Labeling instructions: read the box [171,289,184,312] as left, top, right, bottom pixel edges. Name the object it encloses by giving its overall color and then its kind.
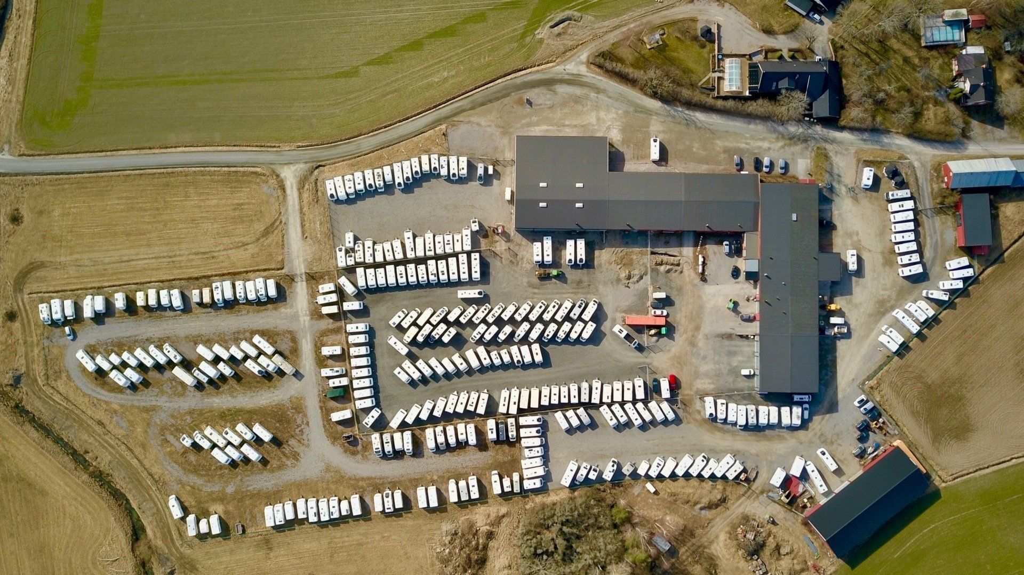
white vehicle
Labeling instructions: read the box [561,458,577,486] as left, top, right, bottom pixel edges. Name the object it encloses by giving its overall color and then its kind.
white camper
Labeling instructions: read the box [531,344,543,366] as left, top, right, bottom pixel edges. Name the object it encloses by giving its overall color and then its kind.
white vehicle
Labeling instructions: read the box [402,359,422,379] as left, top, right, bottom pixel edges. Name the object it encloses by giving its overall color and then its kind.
white camper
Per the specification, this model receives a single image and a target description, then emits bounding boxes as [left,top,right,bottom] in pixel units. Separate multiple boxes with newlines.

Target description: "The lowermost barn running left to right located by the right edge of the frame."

[943,158,1016,188]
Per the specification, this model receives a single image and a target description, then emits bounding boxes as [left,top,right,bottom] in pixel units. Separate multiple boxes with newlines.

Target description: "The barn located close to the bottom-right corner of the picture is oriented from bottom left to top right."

[806,440,930,558]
